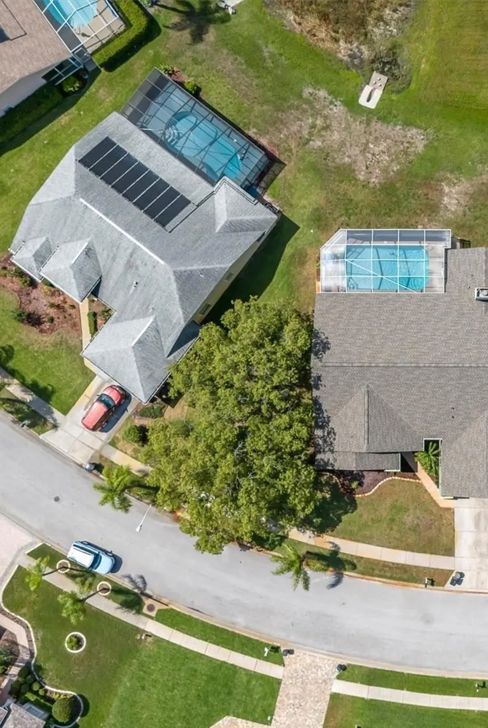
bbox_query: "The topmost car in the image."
[83,384,126,433]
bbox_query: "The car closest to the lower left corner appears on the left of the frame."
[65,539,117,575]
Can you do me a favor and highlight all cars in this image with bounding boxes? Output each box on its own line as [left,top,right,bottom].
[65,539,117,575]
[83,384,126,433]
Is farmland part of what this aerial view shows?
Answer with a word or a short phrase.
No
